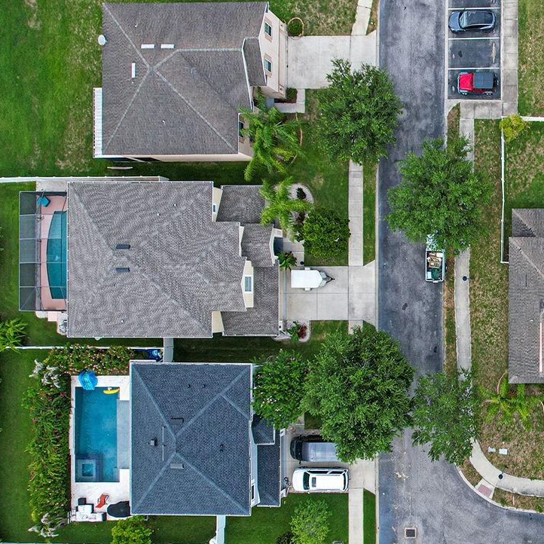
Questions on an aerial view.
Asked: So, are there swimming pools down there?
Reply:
Yes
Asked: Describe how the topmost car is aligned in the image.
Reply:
from left to right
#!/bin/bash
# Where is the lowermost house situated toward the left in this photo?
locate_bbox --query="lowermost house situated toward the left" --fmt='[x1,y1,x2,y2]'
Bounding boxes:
[130,361,286,516]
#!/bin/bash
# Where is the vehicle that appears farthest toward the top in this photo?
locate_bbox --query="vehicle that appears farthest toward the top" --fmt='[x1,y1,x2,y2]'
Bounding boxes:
[449,9,497,34]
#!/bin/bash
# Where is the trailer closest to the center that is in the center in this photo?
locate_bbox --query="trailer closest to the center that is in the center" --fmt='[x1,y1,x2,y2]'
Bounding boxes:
[287,268,338,291]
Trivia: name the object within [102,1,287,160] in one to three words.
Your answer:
house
